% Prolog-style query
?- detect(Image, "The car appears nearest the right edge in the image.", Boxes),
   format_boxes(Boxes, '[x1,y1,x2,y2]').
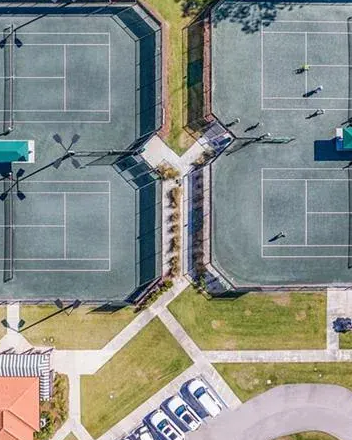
[189,379,223,417]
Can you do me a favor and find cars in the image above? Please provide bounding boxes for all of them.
[150,408,184,440]
[168,394,202,433]
[189,379,223,417]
